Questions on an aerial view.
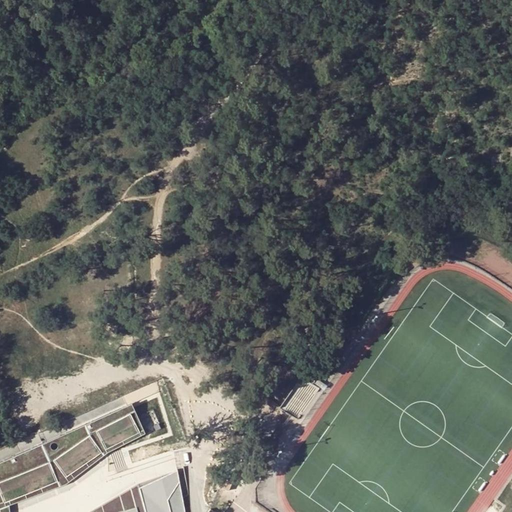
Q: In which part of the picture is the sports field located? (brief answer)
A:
bottom right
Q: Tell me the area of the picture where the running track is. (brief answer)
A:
bottom right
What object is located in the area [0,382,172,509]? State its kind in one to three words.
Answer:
building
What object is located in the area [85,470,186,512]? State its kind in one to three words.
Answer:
building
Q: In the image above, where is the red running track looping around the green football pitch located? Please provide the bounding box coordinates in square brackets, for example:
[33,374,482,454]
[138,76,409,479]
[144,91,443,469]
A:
[276,262,512,512]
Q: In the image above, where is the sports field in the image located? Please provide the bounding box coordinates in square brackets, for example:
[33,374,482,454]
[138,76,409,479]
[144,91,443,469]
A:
[284,270,512,512]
